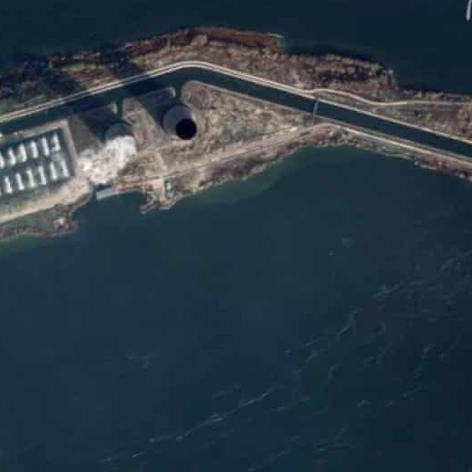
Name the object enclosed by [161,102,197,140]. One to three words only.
cooling tower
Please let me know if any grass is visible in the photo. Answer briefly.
No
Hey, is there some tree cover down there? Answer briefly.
No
